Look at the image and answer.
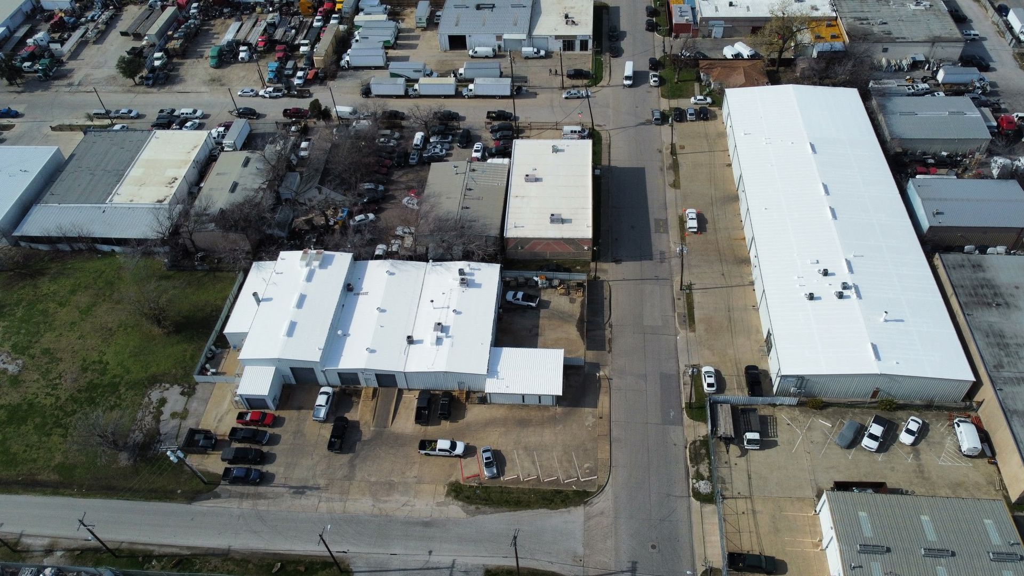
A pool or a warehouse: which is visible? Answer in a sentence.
It is a warehouse that can be seen here.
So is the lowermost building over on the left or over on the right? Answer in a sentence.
The lowermost building is on the right side of the image.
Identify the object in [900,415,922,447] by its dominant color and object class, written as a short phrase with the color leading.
white car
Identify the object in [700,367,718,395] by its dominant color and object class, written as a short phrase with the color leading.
white car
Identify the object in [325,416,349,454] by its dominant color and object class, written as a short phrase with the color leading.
black truck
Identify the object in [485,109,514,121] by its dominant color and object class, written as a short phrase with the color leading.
black vehicle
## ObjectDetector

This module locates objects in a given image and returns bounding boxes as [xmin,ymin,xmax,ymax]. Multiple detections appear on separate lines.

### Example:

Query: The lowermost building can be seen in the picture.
[819,491,1024,576]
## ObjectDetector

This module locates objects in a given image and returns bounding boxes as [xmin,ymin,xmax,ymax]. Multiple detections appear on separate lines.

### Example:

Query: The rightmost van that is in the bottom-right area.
[954,419,983,456]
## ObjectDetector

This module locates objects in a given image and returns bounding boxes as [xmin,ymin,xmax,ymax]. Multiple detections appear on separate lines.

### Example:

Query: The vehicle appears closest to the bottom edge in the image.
[725,551,778,574]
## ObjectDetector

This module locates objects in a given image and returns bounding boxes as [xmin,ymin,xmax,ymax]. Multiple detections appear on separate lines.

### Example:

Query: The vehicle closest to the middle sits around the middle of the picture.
[503,291,541,309]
